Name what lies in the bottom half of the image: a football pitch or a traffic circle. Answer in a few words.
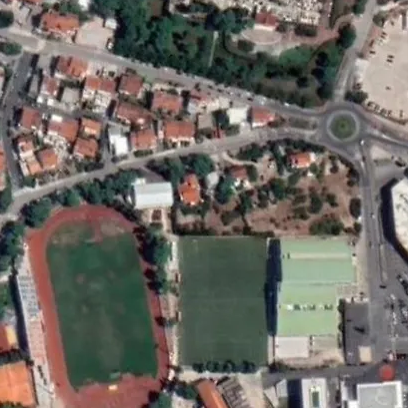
football pitch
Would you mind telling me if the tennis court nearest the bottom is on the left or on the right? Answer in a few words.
left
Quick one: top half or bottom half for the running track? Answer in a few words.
bottom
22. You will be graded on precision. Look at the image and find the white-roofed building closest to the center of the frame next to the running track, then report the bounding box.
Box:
[135,178,173,210]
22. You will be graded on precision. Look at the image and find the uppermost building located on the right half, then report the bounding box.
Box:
[254,12,280,31]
